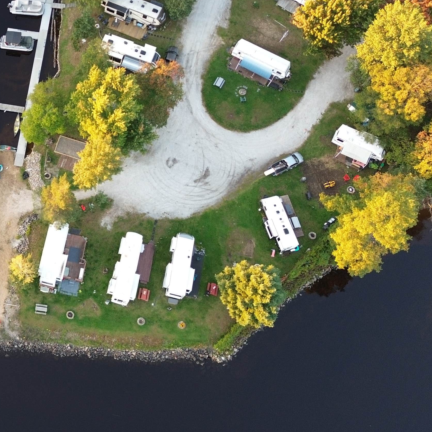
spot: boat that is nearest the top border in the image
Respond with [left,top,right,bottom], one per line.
[5,0,44,16]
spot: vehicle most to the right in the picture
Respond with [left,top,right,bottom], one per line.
[331,125,382,173]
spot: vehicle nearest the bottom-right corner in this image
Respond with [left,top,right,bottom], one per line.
[257,198,298,259]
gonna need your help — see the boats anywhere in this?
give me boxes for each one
[0,30,34,51]
[13,113,20,137]
[5,0,44,16]
[0,145,17,150]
